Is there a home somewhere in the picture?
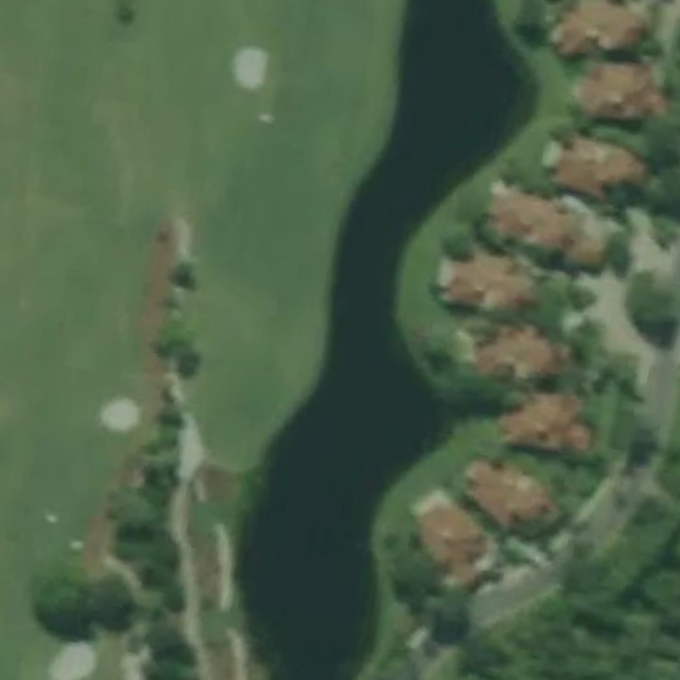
Yes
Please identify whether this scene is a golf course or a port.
golf course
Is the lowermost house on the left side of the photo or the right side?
right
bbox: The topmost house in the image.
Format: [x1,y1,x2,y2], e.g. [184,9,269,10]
[549,0,647,58]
